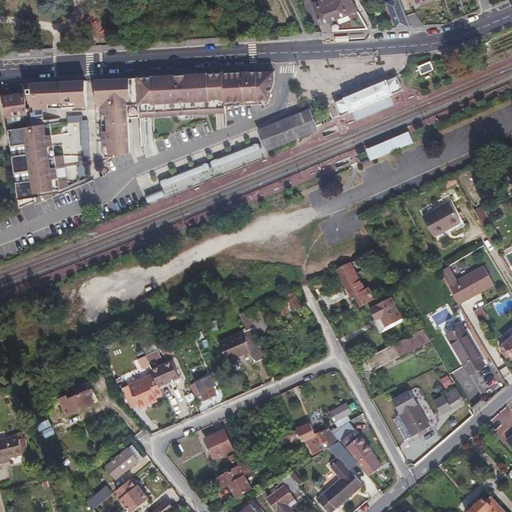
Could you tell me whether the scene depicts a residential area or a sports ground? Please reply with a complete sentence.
This looks like a residential area.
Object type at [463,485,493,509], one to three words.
shed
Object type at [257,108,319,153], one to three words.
building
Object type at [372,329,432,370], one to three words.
barn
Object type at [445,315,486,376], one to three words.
house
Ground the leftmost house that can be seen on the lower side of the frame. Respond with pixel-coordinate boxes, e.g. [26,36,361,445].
[0,432,29,468]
